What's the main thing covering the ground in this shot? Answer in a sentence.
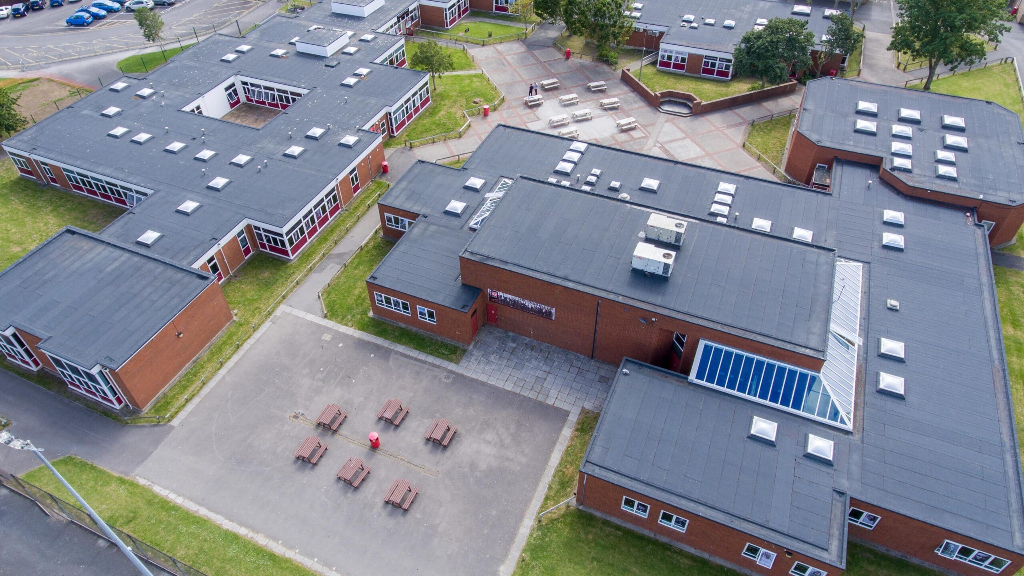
For the most part, this view shows buildings.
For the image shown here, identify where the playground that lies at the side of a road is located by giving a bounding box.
[132,312,570,576]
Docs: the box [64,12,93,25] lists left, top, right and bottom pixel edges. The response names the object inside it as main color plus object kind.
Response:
blue vehicle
